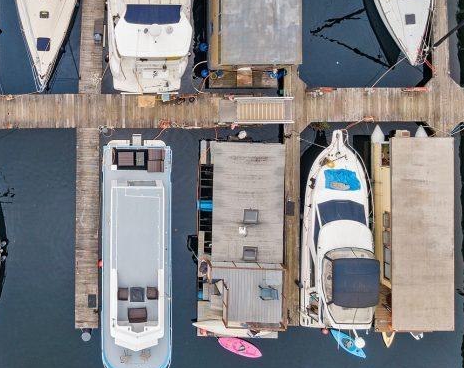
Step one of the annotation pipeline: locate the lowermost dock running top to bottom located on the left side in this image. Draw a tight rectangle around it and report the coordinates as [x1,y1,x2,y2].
[75,129,100,327]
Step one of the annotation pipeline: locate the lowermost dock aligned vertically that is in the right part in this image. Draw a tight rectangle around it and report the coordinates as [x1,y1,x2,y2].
[283,90,321,327]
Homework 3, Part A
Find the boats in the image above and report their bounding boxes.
[106,0,194,96]
[411,333,425,342]
[100,134,173,368]
[207,0,302,91]
[17,0,78,93]
[370,0,464,68]
[197,140,286,338]
[370,124,455,333]
[384,332,396,349]
[331,332,367,360]
[192,322,272,341]
[299,123,380,350]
